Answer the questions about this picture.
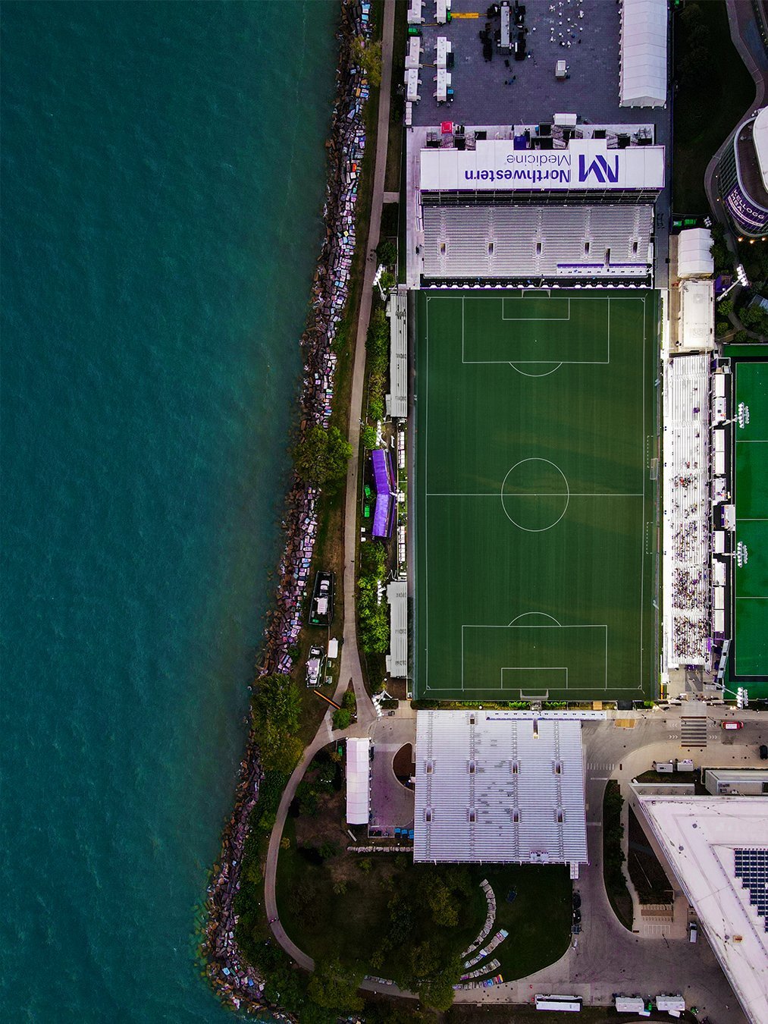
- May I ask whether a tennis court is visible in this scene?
No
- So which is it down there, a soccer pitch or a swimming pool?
soccer pitch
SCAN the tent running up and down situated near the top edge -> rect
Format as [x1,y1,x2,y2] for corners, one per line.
[617,0,668,110]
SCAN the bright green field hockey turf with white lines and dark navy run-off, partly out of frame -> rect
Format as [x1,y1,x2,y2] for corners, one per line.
[723,347,768,703]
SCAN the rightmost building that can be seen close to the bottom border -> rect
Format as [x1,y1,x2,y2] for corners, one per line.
[626,779,768,1024]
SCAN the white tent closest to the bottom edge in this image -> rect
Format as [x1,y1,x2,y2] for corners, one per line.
[346,734,374,826]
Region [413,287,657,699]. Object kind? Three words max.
soccer field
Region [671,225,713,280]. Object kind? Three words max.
tent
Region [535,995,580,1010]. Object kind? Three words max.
vehicle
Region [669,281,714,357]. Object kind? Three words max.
building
